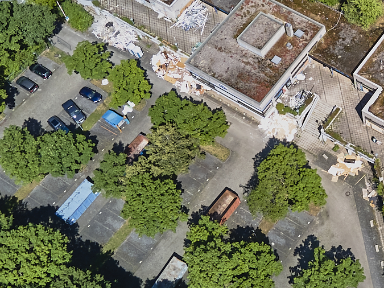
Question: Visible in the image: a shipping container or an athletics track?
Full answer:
It is a shipping container that can be seen here.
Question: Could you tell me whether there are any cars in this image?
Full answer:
Yes, this view includes a car.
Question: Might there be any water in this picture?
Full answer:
No, no water is visible.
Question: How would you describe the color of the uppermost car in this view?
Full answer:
In this view, the uppermost car is black.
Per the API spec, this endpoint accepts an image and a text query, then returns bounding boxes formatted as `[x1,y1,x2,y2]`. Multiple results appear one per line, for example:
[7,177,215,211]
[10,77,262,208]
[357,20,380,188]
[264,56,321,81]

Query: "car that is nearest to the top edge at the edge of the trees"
[28,62,55,82]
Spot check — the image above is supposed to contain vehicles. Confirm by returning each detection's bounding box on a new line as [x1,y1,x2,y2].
[44,113,74,133]
[58,98,90,124]
[14,75,43,95]
[28,62,55,82]
[76,83,106,106]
